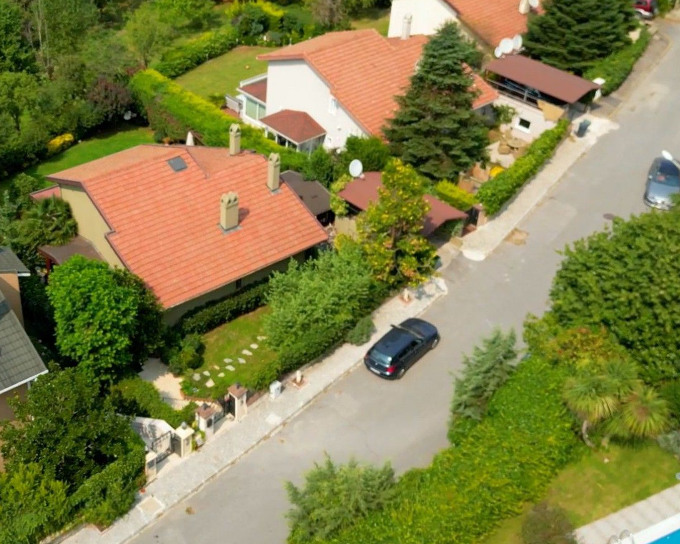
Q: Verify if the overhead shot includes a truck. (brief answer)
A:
No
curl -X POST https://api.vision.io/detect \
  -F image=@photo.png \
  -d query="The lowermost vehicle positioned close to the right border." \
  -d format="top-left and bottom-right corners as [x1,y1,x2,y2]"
[640,152,680,201]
